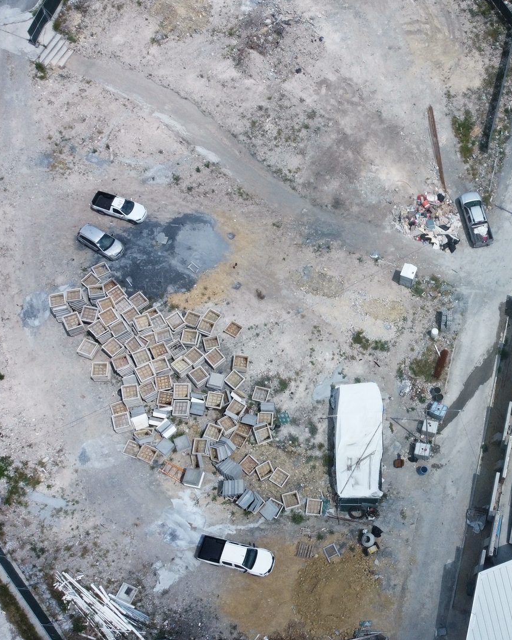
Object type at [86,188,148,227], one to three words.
truck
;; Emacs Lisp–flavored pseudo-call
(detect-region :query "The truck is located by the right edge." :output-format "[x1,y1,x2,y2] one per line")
[458,192,494,251]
